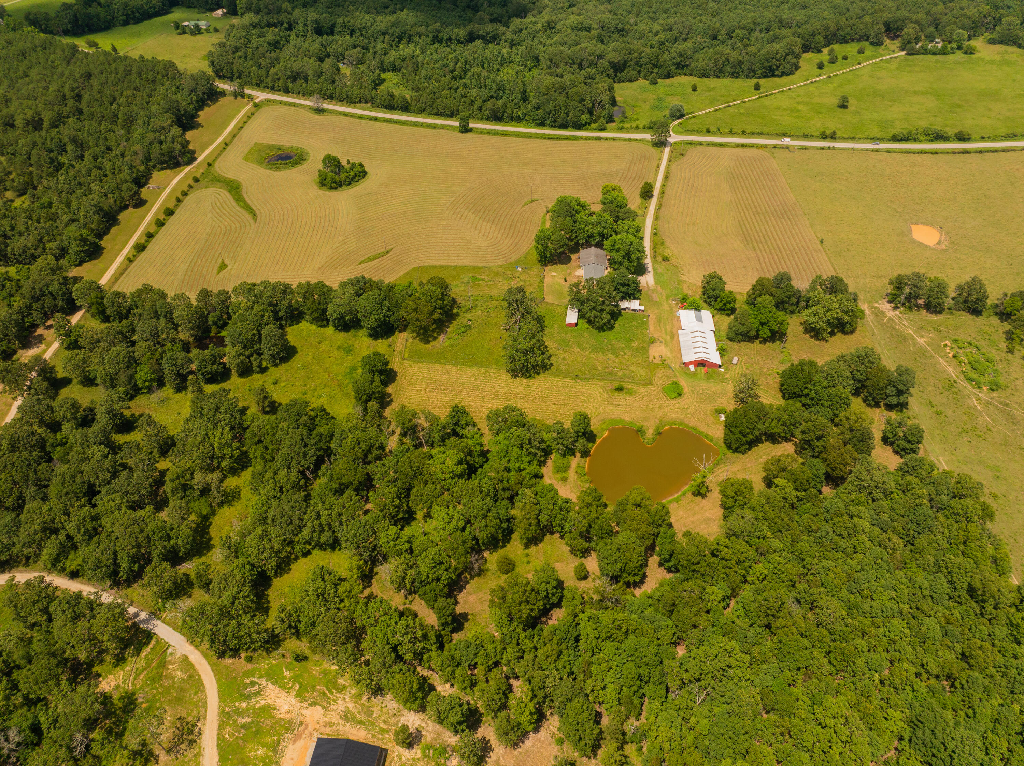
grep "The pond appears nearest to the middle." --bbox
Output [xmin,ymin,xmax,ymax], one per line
[586,427,720,509]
